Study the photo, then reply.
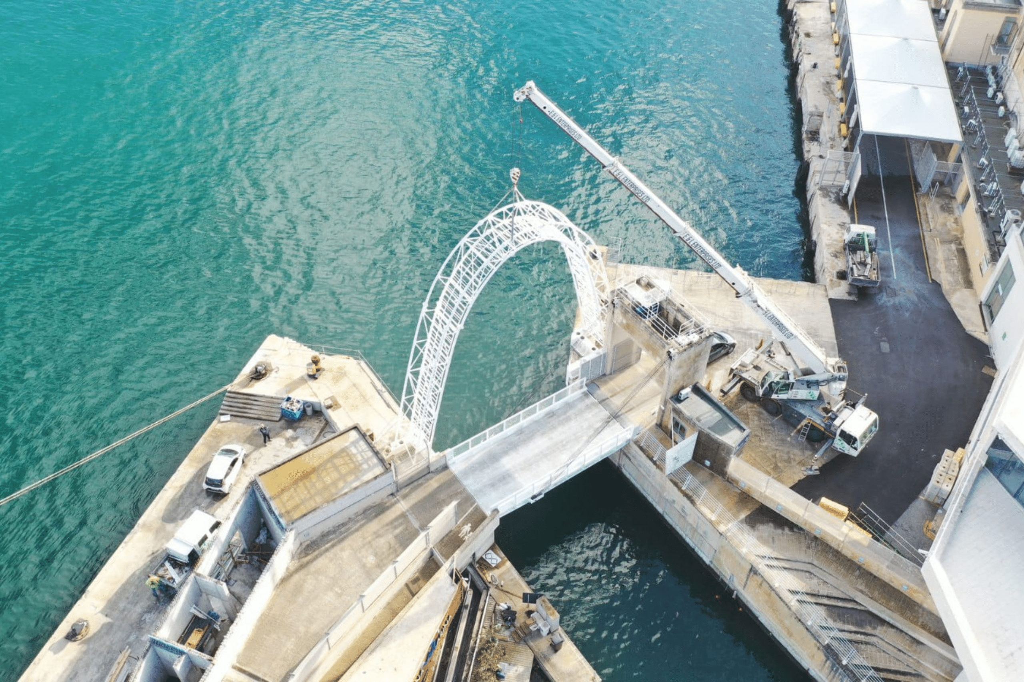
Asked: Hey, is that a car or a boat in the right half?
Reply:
car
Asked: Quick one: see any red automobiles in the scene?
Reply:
No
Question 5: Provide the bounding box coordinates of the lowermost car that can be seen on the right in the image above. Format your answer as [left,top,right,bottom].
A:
[705,334,741,374]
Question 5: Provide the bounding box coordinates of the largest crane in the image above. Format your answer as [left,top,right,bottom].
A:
[494,83,884,478]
